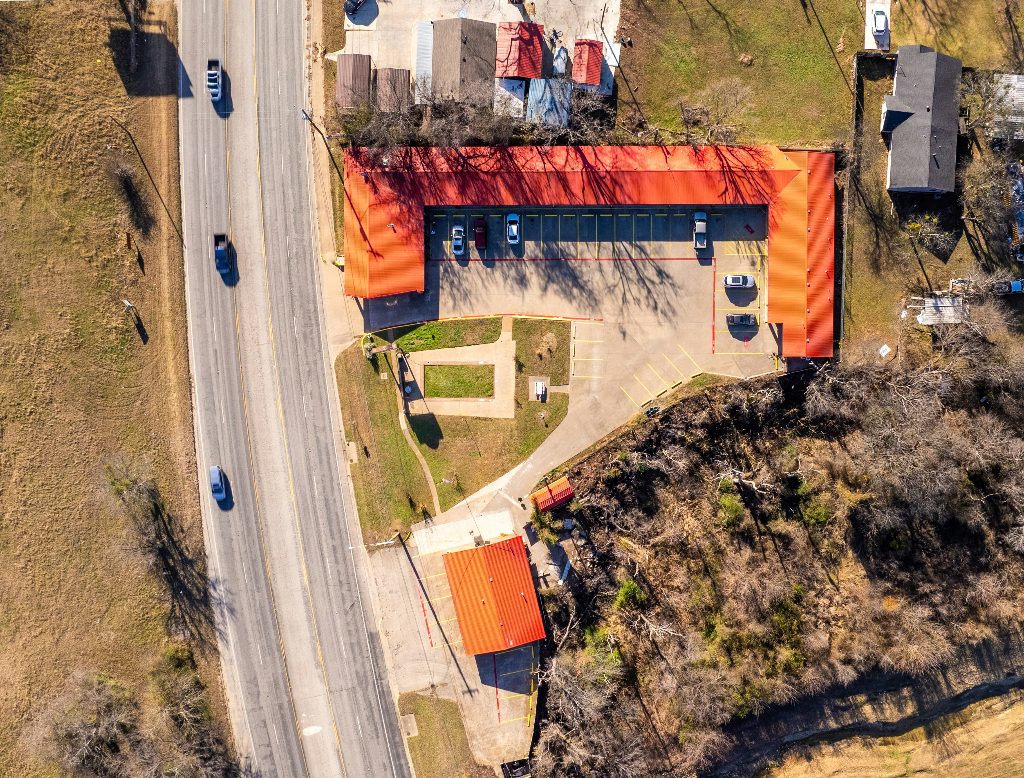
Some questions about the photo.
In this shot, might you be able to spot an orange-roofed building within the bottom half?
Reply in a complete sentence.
Yes, an orange-roofed building is visible within the bottom half.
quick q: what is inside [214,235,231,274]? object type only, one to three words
vehicle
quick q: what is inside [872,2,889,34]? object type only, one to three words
car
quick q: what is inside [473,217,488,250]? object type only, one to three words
car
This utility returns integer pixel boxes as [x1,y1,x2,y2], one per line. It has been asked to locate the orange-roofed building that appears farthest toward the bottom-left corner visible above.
[442,536,546,656]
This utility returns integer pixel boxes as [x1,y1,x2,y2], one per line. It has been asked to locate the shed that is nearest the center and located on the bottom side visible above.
[528,477,575,512]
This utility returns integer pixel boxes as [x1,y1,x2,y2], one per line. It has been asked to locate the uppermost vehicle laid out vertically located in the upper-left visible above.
[205,59,222,99]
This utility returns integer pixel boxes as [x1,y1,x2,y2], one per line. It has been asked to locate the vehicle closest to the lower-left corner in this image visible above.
[209,468,227,502]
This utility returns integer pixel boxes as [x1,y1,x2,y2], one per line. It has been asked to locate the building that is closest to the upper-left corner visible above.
[337,53,373,113]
